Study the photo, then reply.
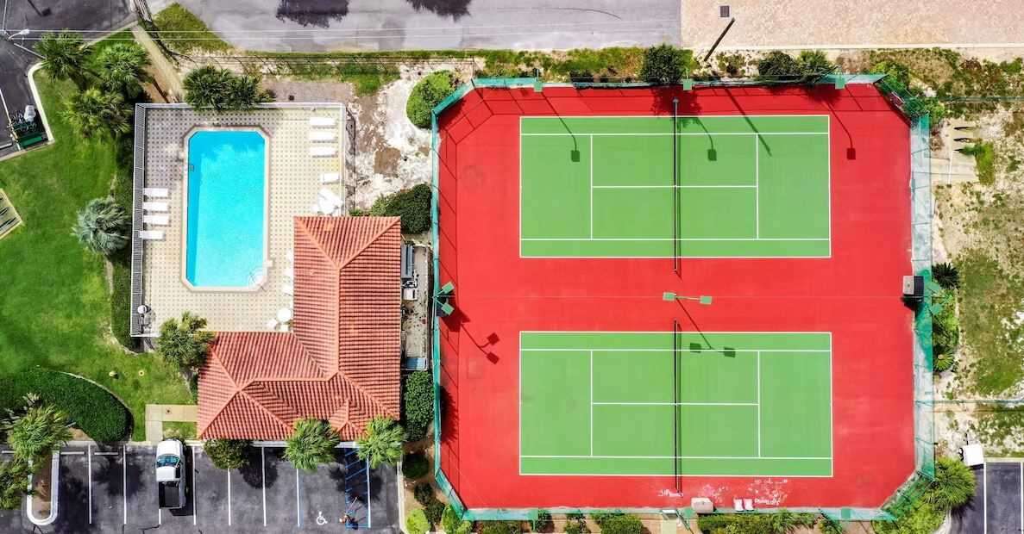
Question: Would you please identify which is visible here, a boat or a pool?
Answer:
pool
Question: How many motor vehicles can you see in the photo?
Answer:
2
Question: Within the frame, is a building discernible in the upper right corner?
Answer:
No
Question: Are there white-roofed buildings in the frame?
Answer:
No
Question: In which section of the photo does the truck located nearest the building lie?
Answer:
bottom left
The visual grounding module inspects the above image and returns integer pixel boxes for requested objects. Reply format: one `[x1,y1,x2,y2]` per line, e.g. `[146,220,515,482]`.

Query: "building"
[195,215,402,446]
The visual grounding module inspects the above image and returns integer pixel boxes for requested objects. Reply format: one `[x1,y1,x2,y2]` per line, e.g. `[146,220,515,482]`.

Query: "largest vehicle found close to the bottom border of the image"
[150,439,189,511]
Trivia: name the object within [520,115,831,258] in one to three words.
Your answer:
tennis court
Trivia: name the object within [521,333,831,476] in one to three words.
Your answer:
tennis court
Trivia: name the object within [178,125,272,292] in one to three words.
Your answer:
swimming pool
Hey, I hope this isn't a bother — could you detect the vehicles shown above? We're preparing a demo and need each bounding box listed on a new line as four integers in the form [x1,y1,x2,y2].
[150,439,189,511]
[952,435,985,467]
